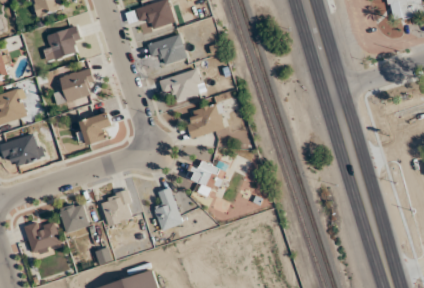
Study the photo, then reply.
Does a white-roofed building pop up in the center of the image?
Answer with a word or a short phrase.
Yes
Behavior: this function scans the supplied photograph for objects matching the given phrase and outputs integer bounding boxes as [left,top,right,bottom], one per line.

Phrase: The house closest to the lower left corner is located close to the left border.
[21,217,60,250]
